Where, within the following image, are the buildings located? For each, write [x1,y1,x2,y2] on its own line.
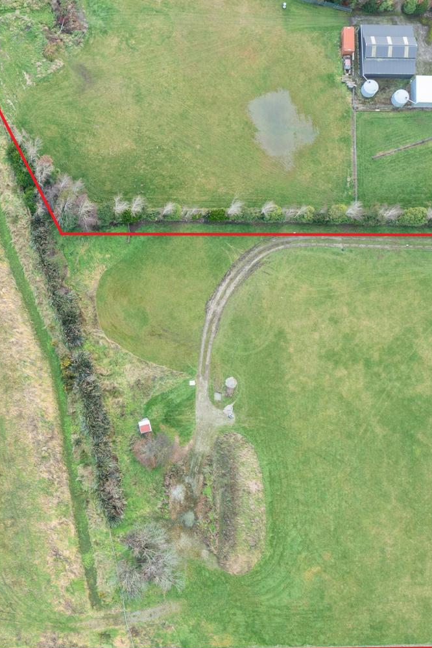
[139,421,152,435]
[406,74,432,106]
[360,23,419,83]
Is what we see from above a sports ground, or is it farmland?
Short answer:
farmland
